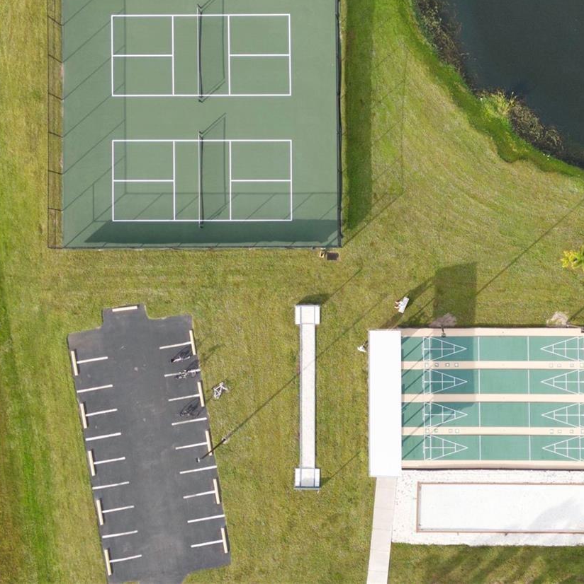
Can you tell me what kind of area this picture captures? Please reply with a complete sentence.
The area seen from above is a sports ground.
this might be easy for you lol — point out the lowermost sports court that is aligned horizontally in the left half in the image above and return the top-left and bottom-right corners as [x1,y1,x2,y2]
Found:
[63,117,343,247]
